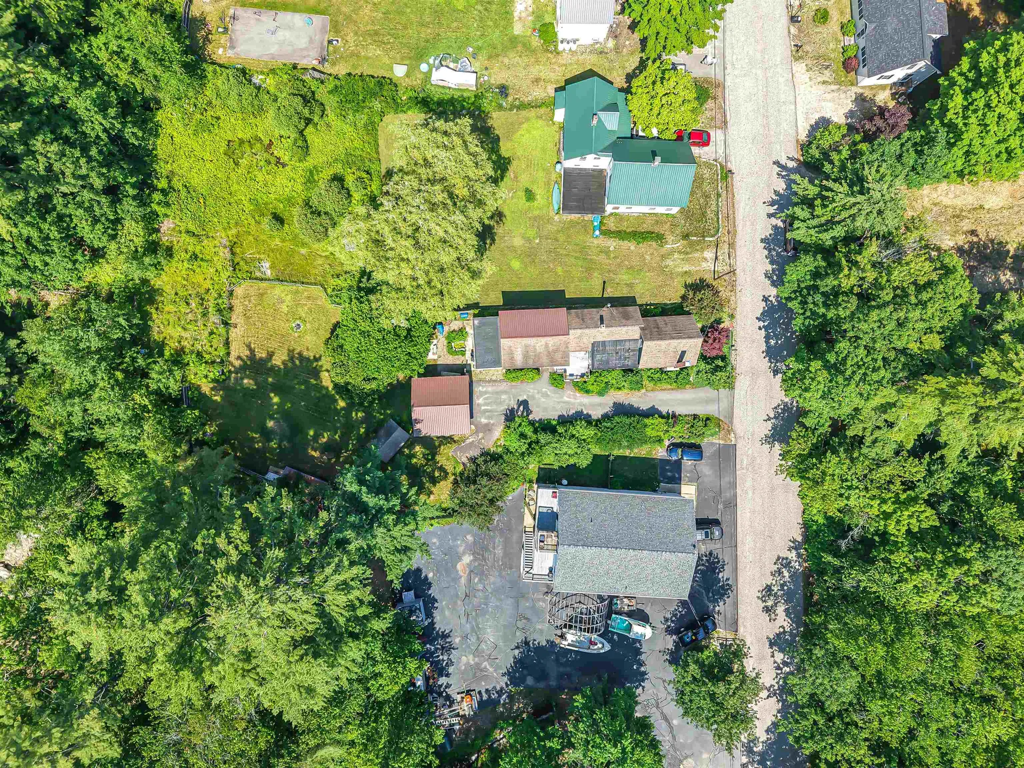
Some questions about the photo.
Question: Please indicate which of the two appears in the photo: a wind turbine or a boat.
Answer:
boat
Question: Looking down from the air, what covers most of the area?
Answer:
trees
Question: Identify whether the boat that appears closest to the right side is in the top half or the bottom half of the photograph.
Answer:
bottom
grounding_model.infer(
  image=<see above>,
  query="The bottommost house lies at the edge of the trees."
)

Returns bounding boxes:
[552,482,699,600]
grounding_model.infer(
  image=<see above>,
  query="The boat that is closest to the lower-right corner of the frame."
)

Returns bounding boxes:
[607,617,658,643]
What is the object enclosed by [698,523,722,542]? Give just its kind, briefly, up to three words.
vehicle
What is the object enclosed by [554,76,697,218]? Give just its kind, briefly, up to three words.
building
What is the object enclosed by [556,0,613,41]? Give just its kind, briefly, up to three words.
shed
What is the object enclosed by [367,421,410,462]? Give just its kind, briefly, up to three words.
shed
